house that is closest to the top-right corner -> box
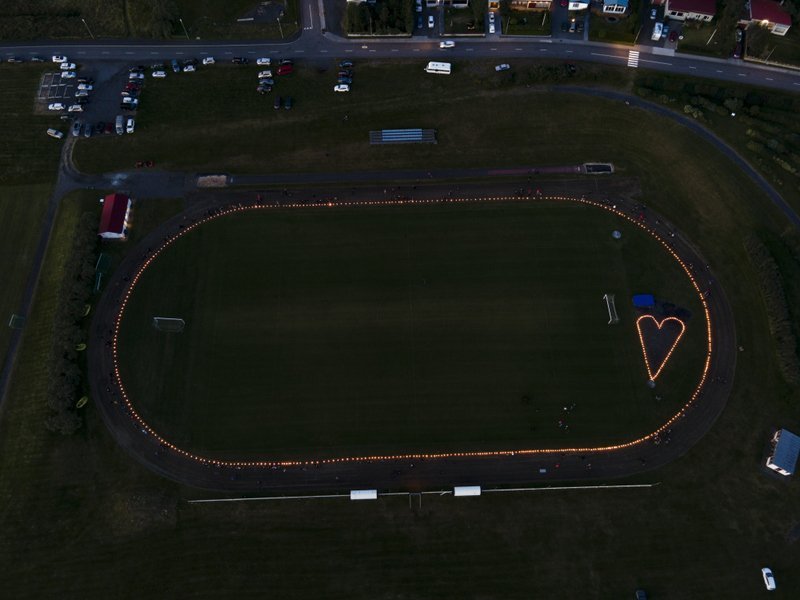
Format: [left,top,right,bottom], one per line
[745,0,794,35]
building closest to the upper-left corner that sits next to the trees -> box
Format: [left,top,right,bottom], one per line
[97,191,131,238]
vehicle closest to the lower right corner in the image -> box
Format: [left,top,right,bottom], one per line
[761,568,777,589]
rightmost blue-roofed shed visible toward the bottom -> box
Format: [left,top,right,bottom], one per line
[758,426,800,477]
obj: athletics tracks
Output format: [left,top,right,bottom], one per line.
[87,177,737,495]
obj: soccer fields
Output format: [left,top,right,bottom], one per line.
[115,198,710,465]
